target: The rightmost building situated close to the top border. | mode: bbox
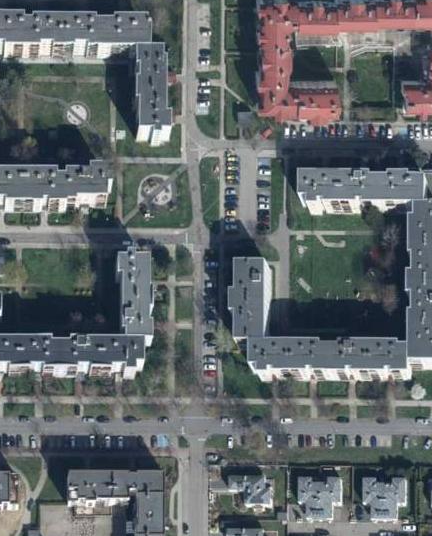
[255,0,432,131]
